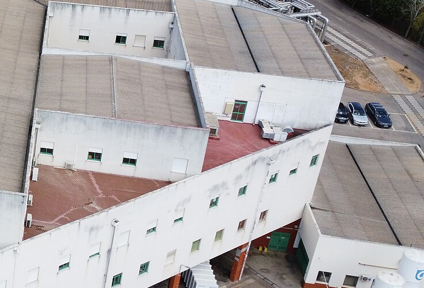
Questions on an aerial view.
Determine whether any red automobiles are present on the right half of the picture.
No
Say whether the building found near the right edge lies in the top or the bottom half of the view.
bottom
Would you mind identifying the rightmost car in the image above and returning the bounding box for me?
[366,102,396,127]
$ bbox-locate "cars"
[366,102,396,127]
[348,103,372,125]
[335,102,354,123]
